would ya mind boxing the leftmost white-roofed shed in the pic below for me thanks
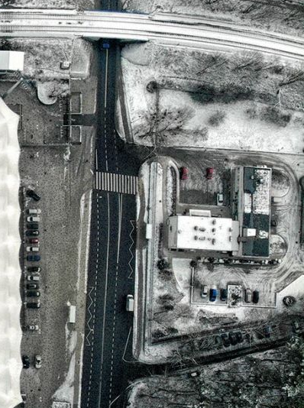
[0,49,24,73]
